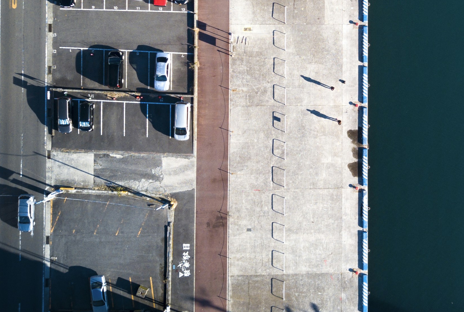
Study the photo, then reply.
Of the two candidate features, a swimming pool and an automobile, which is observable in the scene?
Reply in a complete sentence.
There is an automobile in the scene.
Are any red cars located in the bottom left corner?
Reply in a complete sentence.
No, in the bottom left corner there is no red car.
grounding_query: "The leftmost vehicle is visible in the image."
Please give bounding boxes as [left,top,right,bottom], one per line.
[13,194,34,234]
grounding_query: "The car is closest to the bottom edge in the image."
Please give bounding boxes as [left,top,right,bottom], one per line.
[89,277,108,312]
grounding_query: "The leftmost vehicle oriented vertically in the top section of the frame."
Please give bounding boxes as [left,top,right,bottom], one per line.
[53,96,72,135]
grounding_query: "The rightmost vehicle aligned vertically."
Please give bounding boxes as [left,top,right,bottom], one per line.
[172,101,190,141]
